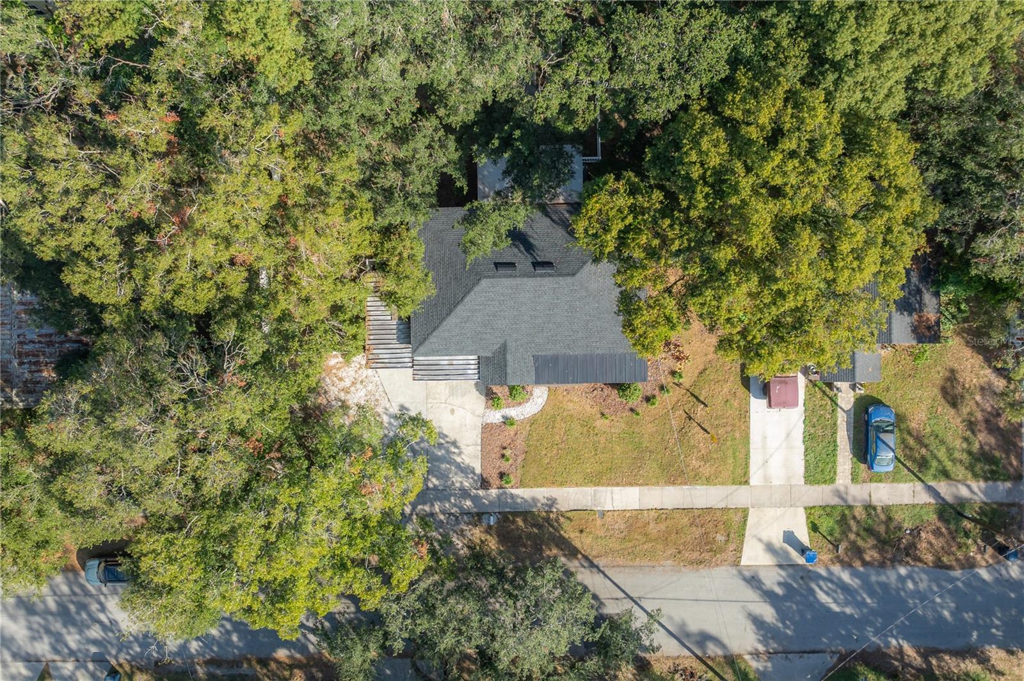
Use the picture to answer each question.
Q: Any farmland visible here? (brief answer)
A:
No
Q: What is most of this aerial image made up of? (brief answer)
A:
trees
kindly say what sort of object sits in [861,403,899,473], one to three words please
car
